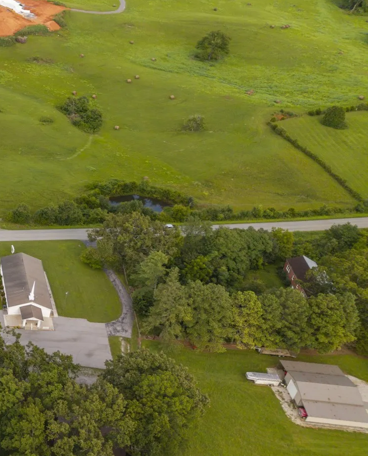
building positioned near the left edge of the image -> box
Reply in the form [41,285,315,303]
[0,253,55,335]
